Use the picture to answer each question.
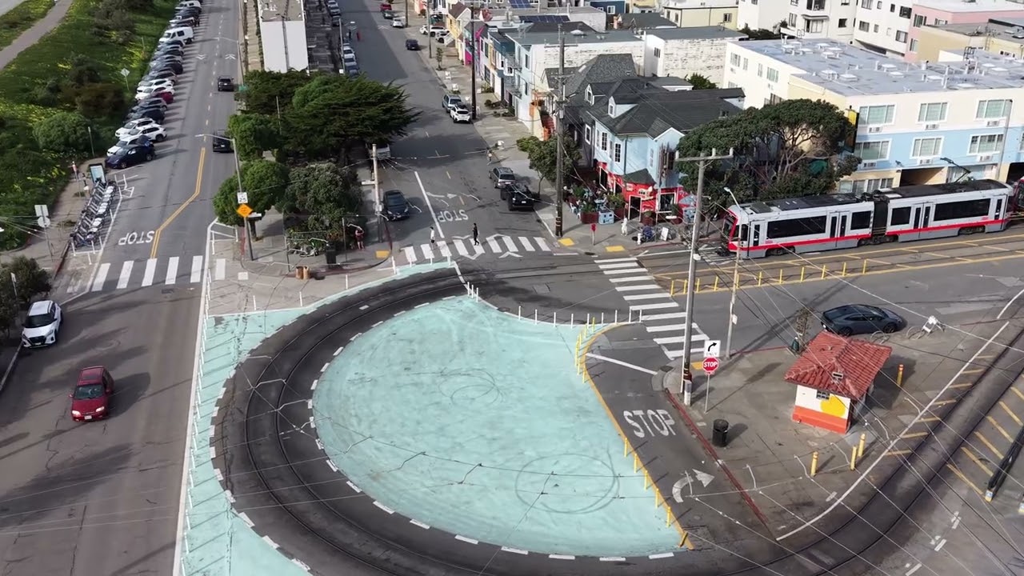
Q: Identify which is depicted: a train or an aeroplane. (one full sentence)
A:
The one in the frame is a train.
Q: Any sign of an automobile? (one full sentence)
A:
Yes, you can see an automobile in this photo.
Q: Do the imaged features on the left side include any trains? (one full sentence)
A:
No, there is no train on the left side.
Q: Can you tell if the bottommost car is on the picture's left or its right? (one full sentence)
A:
The bottommost car appears in the left half of the scene.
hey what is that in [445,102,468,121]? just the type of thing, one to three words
car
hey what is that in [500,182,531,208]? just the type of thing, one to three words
car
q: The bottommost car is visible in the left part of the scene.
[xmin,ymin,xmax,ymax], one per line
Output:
[73,364,120,415]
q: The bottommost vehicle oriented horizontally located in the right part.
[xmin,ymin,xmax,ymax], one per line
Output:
[816,302,899,335]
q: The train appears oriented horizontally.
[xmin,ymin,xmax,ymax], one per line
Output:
[718,161,1016,255]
